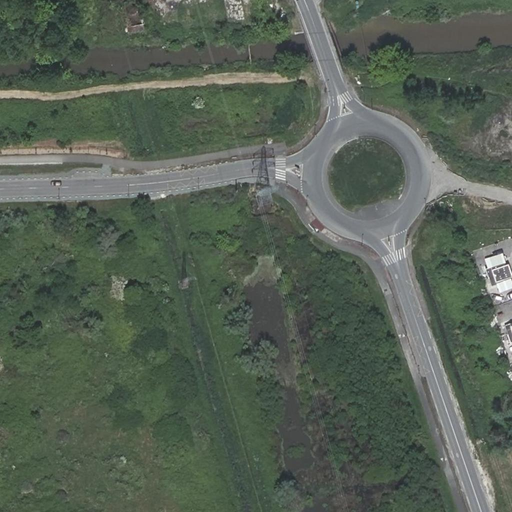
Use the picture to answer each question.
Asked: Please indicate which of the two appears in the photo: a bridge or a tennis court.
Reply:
bridge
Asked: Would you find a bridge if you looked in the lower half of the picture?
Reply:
No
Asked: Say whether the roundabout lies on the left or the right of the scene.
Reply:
right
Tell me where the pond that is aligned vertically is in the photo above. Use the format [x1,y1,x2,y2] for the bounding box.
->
[246,281,313,472]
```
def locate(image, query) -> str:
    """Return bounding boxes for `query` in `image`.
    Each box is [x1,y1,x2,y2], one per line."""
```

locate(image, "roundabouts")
[302,110,430,244]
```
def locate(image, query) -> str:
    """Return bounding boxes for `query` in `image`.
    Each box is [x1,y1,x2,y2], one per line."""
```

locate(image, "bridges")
[302,20,338,66]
